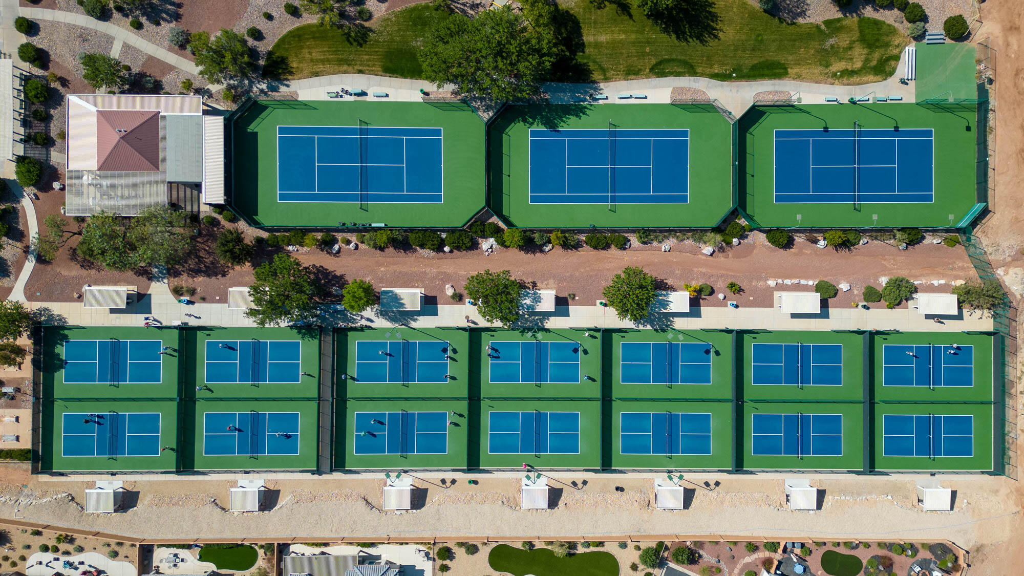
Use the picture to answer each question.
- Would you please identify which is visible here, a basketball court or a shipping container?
basketball court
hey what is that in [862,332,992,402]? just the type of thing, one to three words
sports court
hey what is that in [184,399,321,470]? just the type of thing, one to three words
sports court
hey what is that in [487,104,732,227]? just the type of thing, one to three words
tennis court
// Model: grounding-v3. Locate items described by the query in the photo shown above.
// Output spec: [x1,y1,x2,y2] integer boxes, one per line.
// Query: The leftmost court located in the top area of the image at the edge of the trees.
[234,100,487,227]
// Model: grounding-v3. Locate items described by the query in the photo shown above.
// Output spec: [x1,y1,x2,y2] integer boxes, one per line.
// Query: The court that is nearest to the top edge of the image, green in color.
[916,42,976,104]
